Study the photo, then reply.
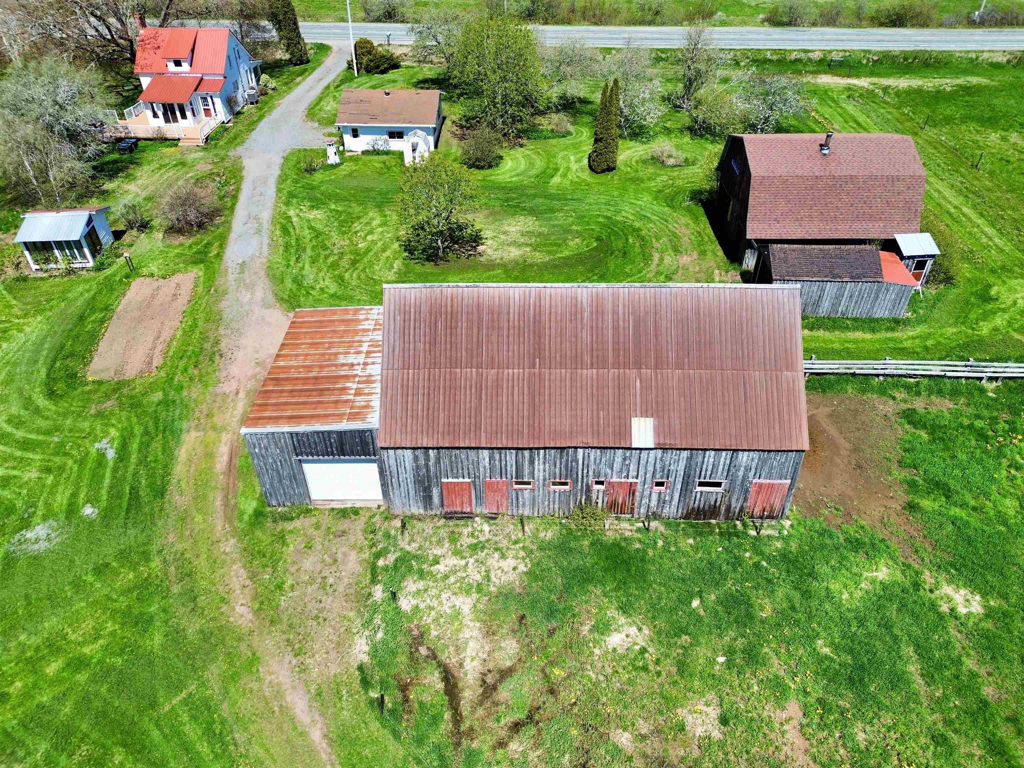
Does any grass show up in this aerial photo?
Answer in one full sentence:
Yes, there is grass in the image.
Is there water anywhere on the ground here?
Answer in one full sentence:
No, the picture contains no water.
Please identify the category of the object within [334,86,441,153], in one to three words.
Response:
house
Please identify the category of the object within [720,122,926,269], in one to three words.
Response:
barn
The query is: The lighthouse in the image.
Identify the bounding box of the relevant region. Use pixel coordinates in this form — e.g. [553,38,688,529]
[327,139,340,165]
